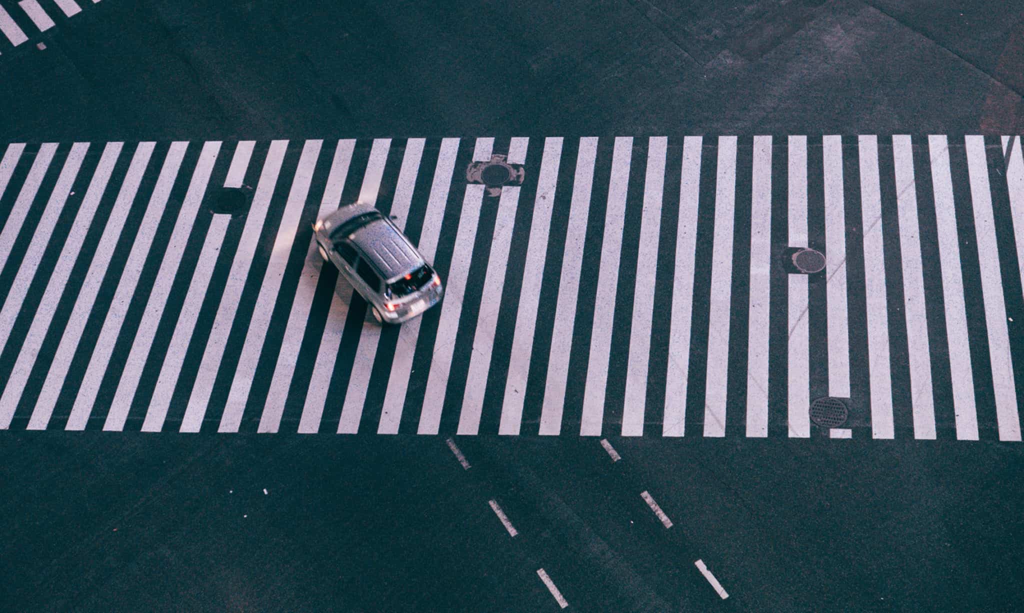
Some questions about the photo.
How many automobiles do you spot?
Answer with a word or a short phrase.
one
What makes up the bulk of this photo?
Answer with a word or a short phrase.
paved ground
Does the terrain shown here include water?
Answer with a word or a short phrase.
No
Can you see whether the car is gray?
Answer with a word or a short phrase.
Yes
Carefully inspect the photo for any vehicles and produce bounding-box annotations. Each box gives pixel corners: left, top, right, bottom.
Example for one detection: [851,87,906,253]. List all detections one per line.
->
[313,201,443,325]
